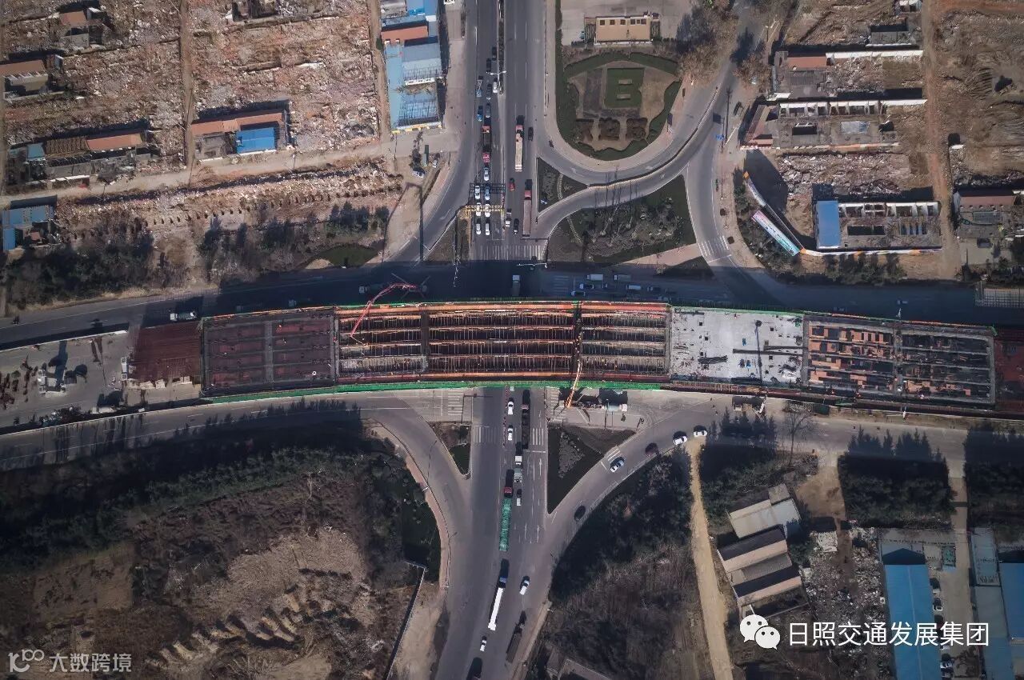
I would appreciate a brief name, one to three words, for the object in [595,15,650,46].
building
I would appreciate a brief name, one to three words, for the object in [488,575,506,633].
vehicle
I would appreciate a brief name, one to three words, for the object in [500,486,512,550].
vehicle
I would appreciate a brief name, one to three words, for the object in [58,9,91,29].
house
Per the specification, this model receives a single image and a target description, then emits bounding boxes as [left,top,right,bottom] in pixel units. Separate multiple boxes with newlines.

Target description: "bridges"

[143,295,1024,421]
